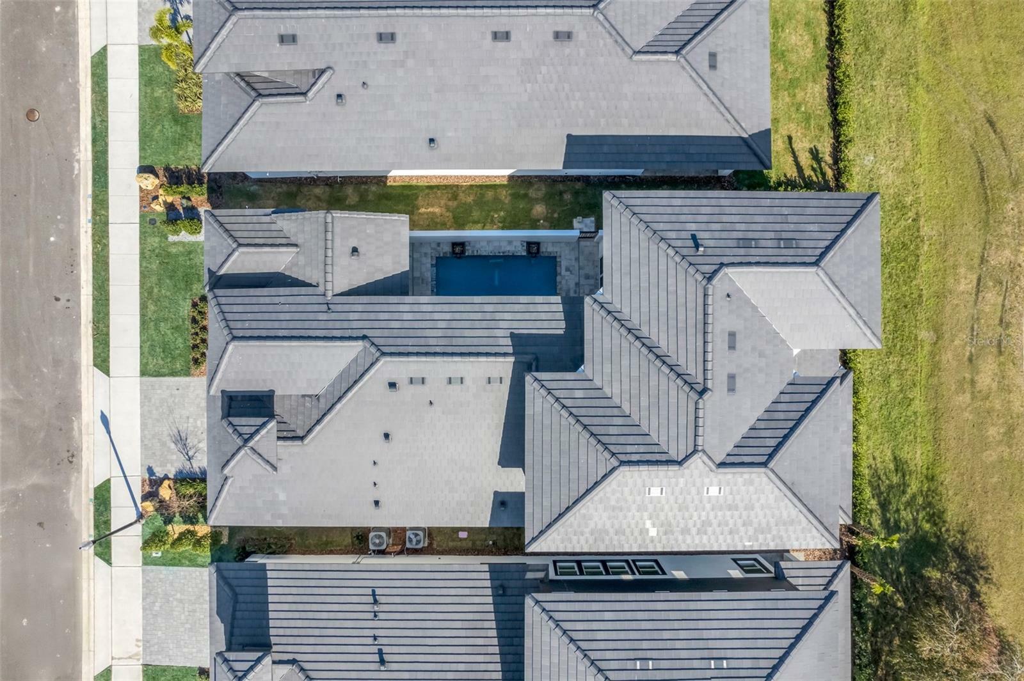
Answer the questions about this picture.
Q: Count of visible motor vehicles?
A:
0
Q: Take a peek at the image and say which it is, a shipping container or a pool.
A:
pool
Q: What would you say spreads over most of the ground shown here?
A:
buildings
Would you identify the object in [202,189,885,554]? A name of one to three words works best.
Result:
house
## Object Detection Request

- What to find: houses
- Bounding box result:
[192,0,773,178]
[208,552,854,681]
[202,189,885,554]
